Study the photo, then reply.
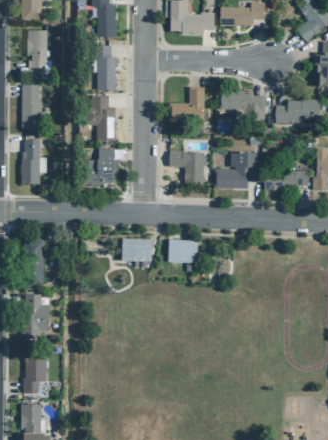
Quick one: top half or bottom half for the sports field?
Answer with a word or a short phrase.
bottom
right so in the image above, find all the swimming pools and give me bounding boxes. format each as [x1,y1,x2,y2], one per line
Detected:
[188,144,207,152]
[44,405,58,424]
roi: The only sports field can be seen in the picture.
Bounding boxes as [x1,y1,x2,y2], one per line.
[82,239,328,440]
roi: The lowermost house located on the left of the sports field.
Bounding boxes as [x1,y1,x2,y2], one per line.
[21,404,50,440]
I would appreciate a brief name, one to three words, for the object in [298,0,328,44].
house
